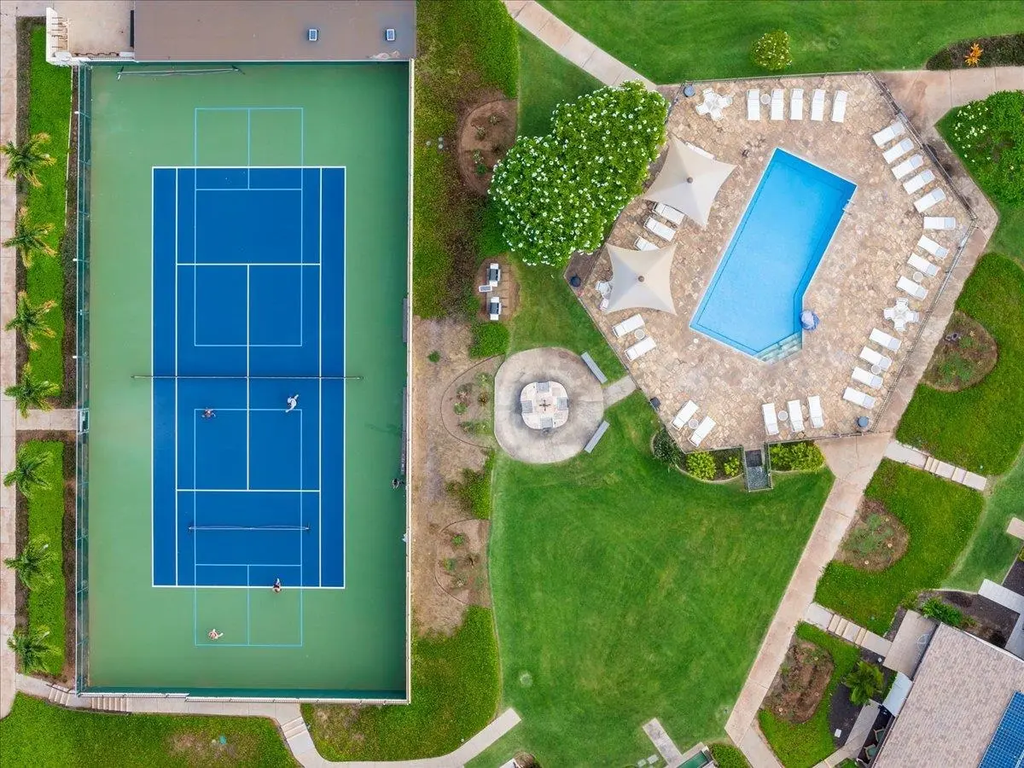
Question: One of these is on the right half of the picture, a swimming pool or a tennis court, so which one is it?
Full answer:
Visible on the right half of the picture is a swimming pool.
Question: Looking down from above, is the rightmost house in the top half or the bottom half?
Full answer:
You can find the rightmost house in the bottom half.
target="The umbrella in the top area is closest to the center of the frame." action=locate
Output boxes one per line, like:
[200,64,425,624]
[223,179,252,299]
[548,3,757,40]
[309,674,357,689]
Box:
[606,244,677,315]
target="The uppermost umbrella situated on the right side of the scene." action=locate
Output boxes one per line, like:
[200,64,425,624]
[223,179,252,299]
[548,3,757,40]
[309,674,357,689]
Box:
[643,133,737,228]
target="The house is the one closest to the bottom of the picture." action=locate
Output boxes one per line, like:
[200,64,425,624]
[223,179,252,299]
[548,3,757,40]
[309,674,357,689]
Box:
[869,619,1024,768]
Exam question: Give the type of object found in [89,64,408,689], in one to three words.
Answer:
tennis court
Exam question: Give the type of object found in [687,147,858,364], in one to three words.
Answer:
swimming pool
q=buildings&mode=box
[869,619,1024,768]
[130,0,417,62]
